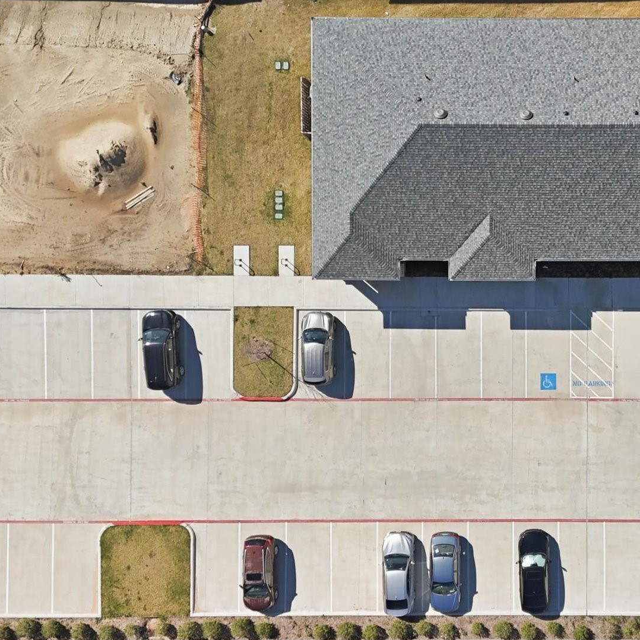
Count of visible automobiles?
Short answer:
6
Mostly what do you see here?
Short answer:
paved ground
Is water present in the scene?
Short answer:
No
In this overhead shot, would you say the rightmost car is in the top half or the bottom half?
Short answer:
bottom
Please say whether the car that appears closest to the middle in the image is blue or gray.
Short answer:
gray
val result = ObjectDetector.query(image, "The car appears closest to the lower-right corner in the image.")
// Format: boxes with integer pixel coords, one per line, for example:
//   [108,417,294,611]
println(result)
[514,527,551,614]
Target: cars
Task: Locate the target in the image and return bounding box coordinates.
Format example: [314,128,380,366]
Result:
[379,530,417,615]
[297,311,336,386]
[137,310,184,389]
[426,531,462,612]
[237,533,278,609]
[514,527,551,614]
